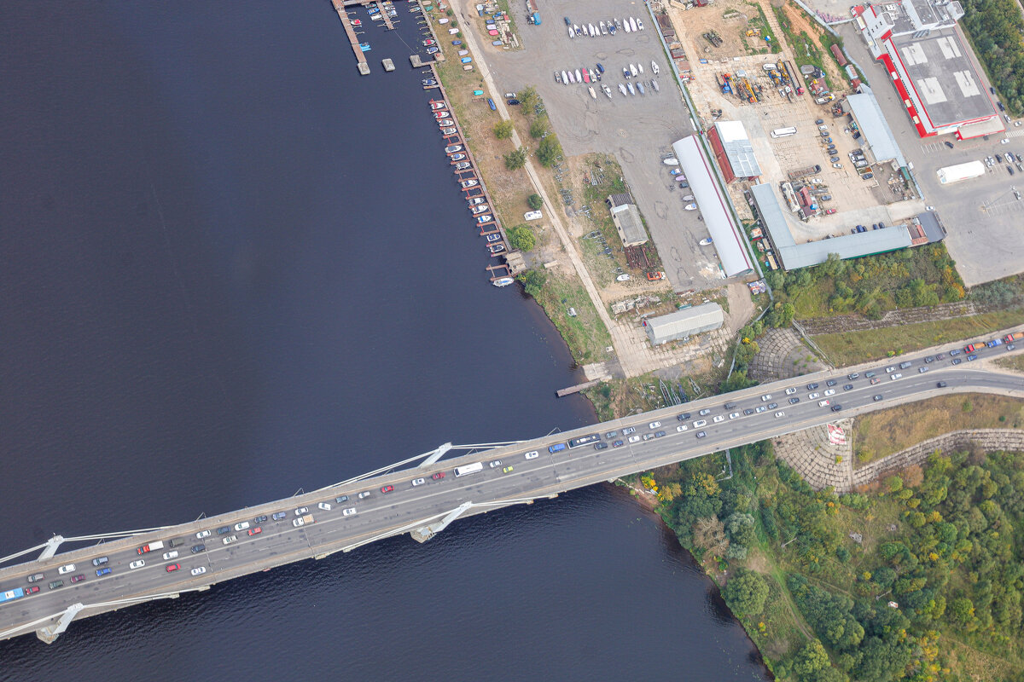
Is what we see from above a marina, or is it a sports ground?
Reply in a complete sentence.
The area seen from above is a marina.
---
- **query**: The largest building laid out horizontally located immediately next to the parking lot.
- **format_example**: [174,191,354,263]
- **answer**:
[745,183,913,274]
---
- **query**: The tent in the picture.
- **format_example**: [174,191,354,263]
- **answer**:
[932,160,987,188]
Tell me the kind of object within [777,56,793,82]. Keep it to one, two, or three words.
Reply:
vehicle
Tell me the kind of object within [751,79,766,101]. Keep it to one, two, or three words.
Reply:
vehicle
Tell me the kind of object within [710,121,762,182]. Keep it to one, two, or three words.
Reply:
building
